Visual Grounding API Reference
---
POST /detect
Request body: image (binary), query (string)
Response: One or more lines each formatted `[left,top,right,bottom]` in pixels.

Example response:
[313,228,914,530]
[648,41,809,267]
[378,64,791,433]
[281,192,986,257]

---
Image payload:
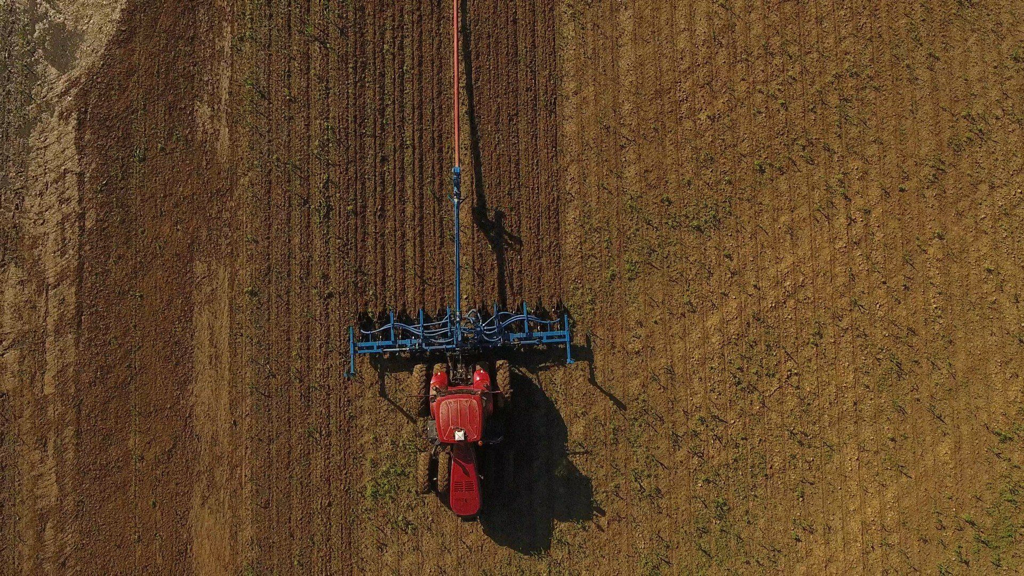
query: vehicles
[413,350,512,521]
